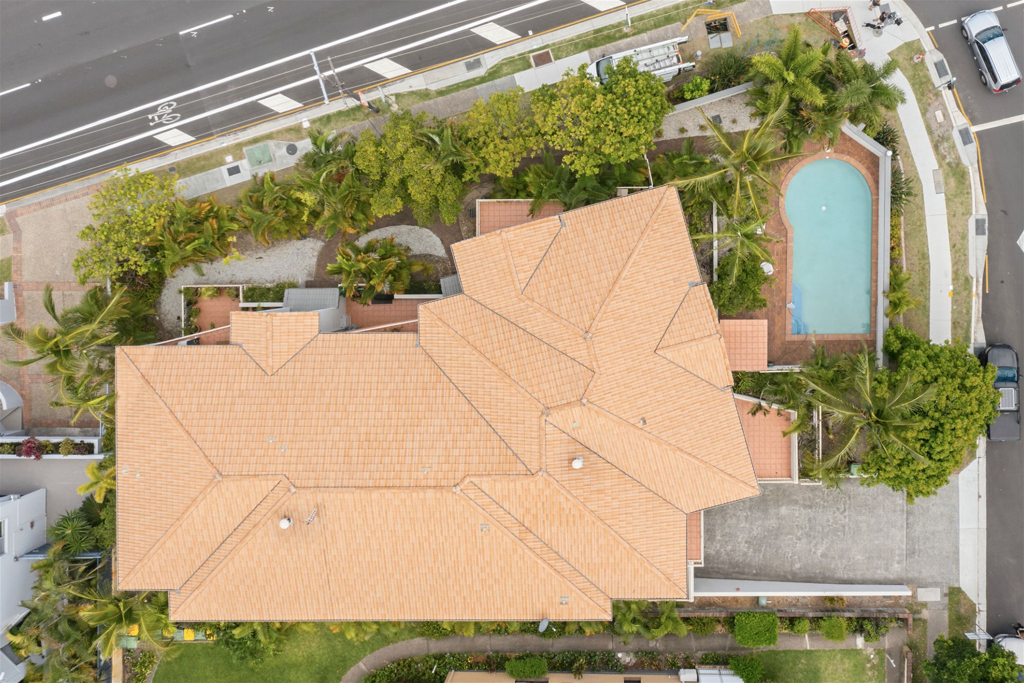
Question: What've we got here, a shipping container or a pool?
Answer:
pool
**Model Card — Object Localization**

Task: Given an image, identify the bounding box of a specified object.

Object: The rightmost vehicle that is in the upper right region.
[958,5,1024,100]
